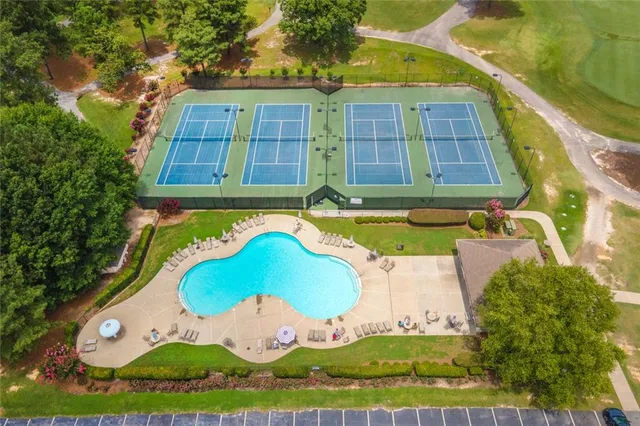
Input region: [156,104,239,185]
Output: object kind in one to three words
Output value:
tennis court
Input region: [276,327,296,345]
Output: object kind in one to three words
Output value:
umbrella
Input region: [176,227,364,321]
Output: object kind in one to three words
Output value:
swimming pool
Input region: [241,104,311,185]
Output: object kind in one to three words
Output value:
tennis court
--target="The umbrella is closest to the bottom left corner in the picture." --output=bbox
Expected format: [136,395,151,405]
[99,319,122,340]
